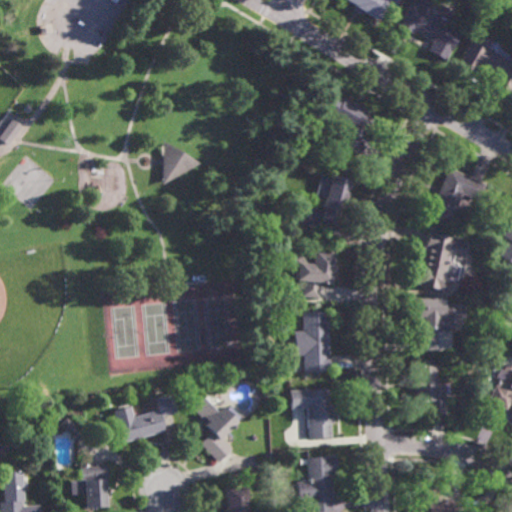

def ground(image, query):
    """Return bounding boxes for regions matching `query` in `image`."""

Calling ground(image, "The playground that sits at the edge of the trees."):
[78,154,126,212]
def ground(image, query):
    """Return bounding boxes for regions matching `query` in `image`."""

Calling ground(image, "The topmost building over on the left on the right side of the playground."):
[162,144,200,184]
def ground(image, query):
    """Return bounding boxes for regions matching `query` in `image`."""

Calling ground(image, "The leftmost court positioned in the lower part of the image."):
[112,305,140,358]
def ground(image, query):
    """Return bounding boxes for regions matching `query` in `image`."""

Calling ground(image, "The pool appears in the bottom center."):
[238,386,253,410]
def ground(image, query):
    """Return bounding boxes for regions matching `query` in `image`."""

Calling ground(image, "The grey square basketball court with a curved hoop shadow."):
[6,156,54,208]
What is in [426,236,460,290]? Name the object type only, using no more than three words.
house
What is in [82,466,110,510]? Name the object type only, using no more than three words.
house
